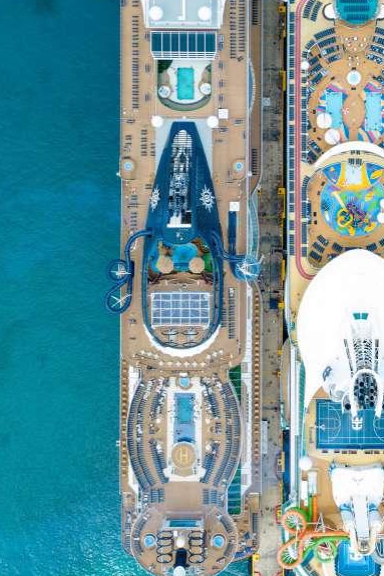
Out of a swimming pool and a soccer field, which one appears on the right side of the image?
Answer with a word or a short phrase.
swimming pool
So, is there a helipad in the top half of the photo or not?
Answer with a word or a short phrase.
No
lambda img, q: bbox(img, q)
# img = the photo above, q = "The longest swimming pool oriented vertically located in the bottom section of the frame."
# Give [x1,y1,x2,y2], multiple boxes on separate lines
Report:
[173,391,194,444]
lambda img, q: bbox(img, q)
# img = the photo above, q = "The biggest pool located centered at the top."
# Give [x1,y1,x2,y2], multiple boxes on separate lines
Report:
[176,66,194,100]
